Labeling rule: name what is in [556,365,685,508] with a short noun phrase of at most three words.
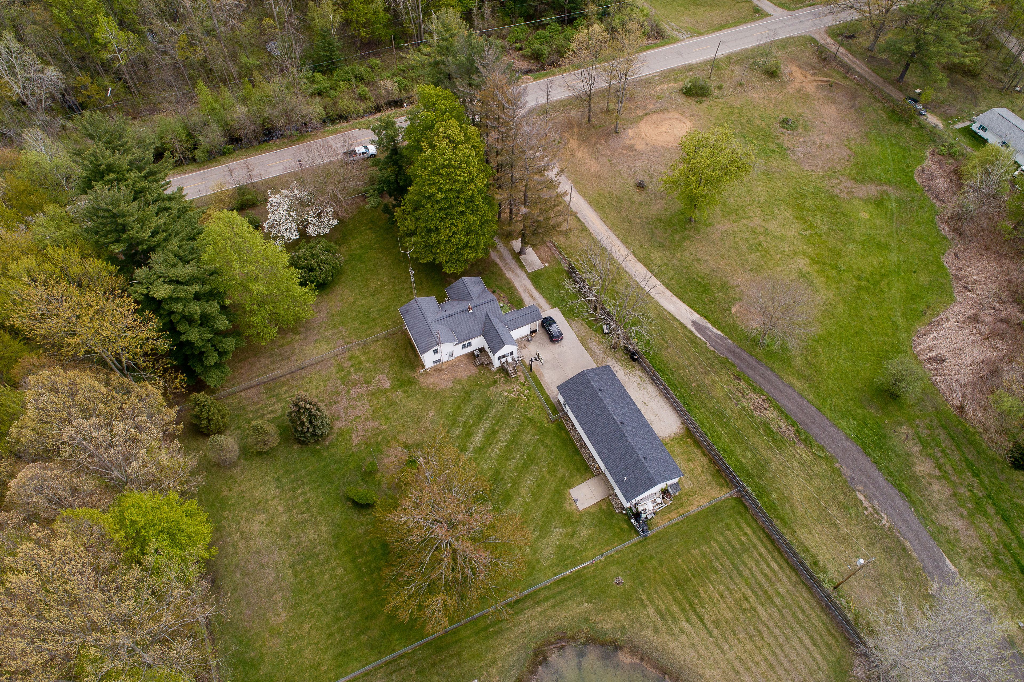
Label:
barn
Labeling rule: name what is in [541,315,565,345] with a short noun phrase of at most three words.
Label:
car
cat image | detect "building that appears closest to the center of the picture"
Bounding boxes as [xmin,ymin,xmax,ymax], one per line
[399,277,543,372]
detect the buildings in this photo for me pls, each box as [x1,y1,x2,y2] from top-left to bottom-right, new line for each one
[399,277,543,372]
[970,112,1024,172]
[556,365,685,508]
